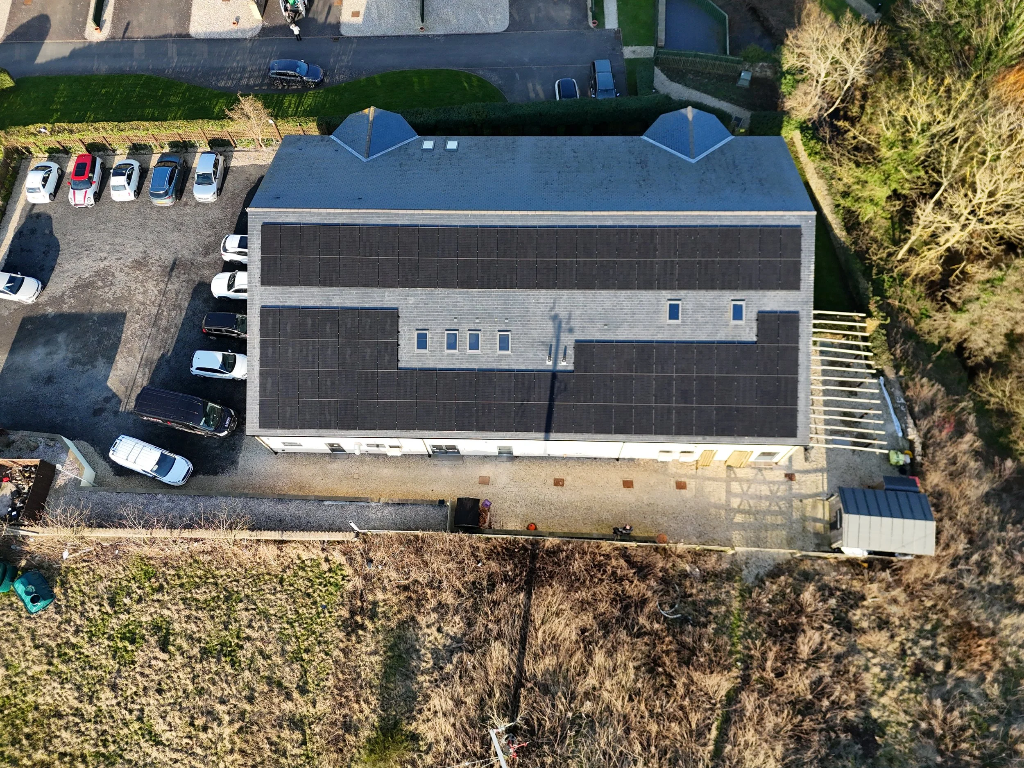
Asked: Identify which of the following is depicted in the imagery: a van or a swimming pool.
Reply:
van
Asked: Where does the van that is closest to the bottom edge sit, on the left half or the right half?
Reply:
left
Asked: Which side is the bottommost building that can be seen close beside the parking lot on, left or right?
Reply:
left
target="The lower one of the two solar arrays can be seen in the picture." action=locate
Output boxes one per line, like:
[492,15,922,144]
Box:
[258,309,801,436]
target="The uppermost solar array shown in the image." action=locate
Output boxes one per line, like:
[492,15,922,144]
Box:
[259,225,803,289]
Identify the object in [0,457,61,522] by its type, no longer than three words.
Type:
building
